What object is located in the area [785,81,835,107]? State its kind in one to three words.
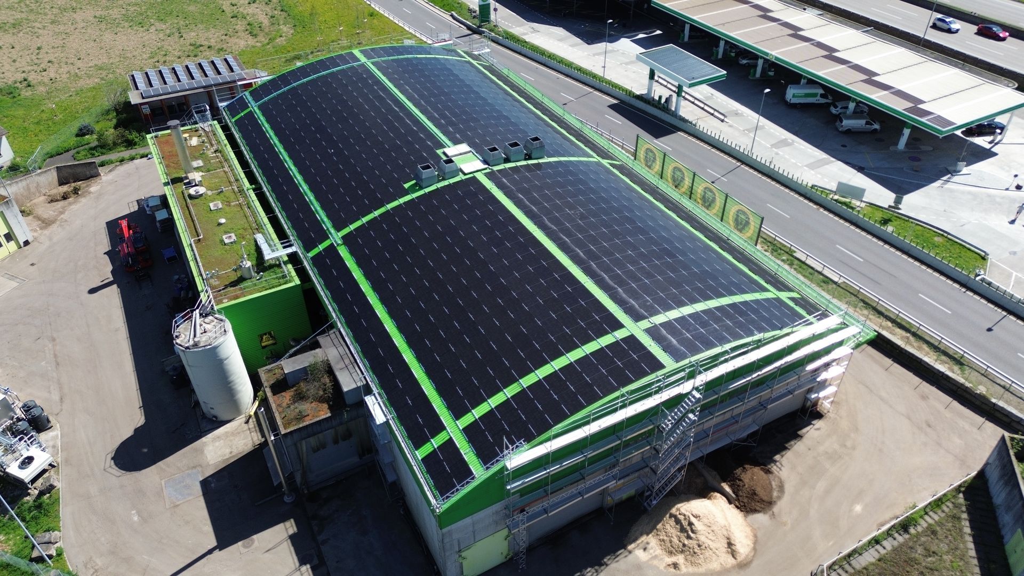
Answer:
vehicle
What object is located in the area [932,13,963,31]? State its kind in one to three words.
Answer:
car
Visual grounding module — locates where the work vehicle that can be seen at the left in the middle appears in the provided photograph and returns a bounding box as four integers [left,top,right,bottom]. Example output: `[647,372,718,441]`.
[116,215,156,281]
